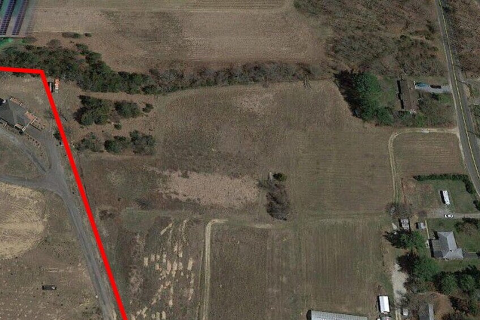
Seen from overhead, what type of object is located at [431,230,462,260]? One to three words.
house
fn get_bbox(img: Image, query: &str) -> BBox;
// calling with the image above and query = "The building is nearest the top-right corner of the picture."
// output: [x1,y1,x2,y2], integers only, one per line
[401,77,421,115]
